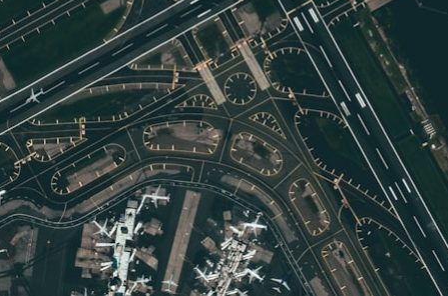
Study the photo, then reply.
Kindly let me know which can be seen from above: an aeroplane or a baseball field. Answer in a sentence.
I can see an aeroplane in this picture.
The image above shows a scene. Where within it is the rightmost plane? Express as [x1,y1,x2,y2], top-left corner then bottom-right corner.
[274,272,293,293]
